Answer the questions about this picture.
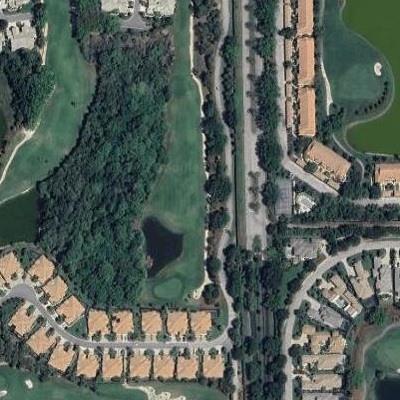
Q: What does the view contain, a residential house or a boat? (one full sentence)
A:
The image shows a residential house.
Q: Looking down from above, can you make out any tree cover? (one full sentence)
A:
Yes, there is tree cover in the image.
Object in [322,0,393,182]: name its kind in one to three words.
golf course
